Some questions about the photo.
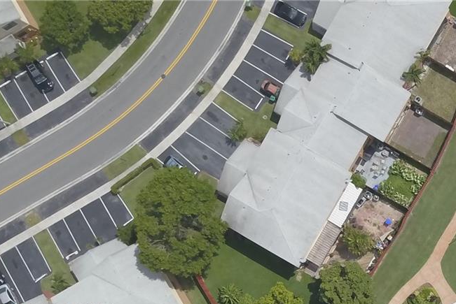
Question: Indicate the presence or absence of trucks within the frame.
No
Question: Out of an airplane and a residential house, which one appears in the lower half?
residential house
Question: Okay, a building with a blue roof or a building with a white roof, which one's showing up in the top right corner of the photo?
building with a white roof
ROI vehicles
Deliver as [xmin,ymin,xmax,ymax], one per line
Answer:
[0,280,20,304]
[24,60,55,94]
[163,152,195,177]
[257,79,280,100]
[270,0,306,26]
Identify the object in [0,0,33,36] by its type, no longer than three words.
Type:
house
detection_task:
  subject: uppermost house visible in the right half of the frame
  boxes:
[313,0,456,85]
